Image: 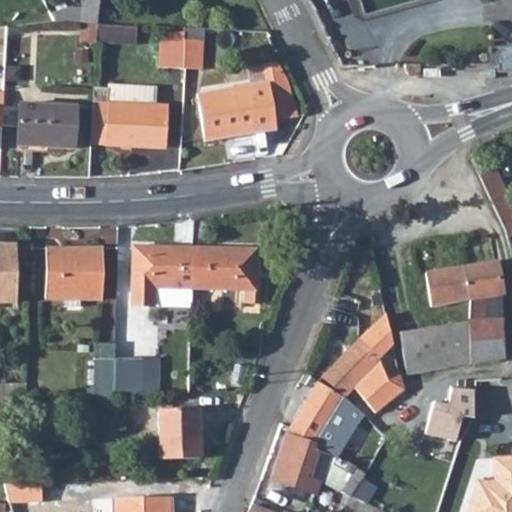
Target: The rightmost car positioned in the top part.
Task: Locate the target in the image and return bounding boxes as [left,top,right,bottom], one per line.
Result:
[452,100,476,112]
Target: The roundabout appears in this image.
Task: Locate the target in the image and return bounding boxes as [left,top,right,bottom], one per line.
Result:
[309,92,436,230]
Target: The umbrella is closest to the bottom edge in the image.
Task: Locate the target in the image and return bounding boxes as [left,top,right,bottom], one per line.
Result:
[318,492,332,506]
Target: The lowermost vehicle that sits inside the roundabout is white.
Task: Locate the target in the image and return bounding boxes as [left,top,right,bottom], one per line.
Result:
[384,169,411,186]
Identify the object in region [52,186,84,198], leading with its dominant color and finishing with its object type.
white vehicle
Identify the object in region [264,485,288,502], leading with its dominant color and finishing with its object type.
white vehicle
